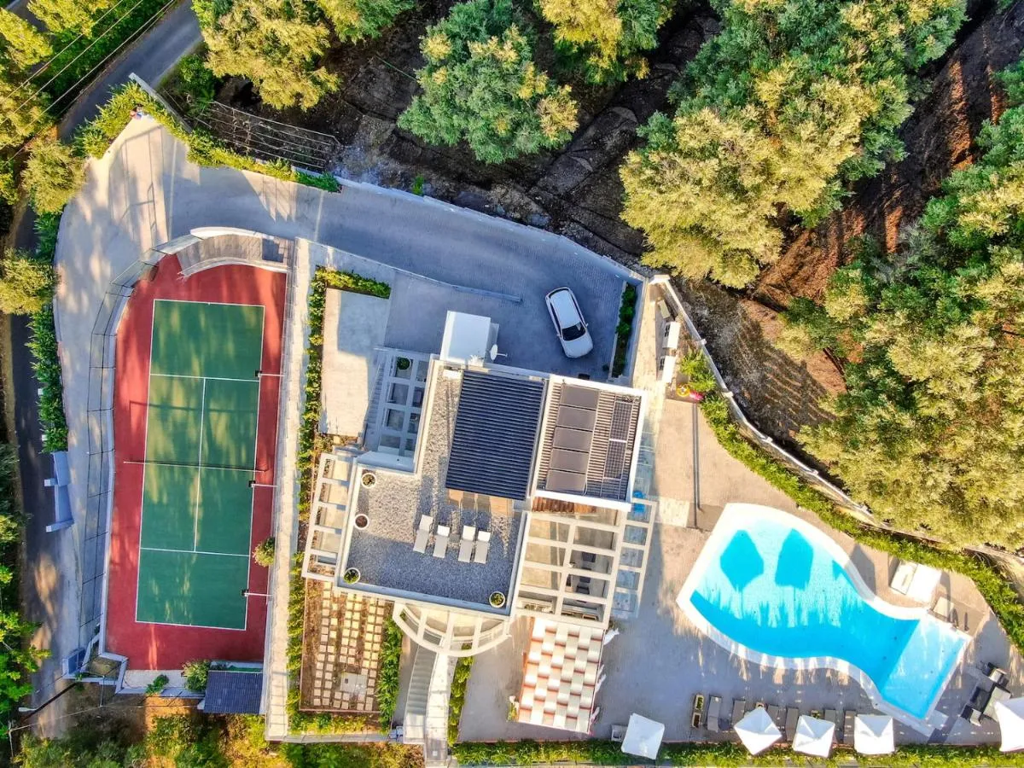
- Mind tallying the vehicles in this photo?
1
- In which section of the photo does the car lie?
center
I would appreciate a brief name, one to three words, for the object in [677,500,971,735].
swimming pool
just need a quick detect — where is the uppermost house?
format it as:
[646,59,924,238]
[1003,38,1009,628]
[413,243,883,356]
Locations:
[301,311,658,657]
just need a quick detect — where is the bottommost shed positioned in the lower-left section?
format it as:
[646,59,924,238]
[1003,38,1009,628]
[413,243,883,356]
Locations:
[203,657,270,715]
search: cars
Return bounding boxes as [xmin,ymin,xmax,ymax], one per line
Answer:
[548,286,591,358]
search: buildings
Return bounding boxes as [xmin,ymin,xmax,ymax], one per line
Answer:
[203,657,270,715]
[301,311,658,657]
